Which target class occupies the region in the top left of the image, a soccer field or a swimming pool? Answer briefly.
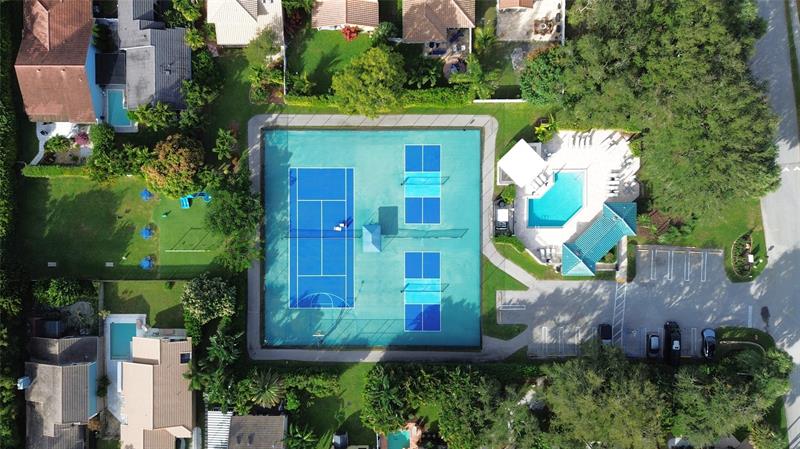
swimming pool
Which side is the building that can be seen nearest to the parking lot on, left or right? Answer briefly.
right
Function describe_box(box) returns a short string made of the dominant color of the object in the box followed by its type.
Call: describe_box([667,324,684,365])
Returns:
black vehicle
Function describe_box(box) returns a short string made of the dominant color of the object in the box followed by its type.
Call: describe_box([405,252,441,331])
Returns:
blue sports court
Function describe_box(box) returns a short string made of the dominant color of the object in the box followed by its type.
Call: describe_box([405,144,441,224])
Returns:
blue sports court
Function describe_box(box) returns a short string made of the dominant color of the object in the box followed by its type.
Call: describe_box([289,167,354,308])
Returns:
blue tennis court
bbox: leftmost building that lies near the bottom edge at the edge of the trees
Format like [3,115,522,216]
[17,335,103,449]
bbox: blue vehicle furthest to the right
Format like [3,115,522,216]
[703,329,719,358]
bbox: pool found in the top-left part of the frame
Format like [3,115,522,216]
[105,89,131,127]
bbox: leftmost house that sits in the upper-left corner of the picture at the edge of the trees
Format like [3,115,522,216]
[12,0,104,122]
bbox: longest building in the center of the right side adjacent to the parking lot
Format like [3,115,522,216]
[561,201,638,276]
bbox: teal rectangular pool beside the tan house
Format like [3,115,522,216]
[109,322,138,361]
